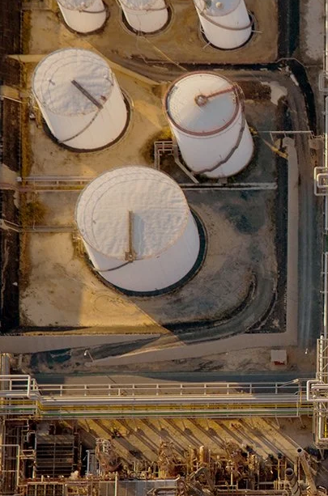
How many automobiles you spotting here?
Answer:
none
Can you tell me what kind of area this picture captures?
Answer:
industrial area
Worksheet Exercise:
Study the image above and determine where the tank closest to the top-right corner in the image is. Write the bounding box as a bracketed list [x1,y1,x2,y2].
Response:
[190,0,260,56]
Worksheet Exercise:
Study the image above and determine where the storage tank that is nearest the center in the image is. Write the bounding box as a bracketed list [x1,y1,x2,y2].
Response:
[71,160,209,305]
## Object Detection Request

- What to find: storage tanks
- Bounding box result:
[115,0,177,43]
[71,160,209,305]
[158,65,257,180]
[31,45,135,157]
[190,0,260,56]
[55,0,114,40]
